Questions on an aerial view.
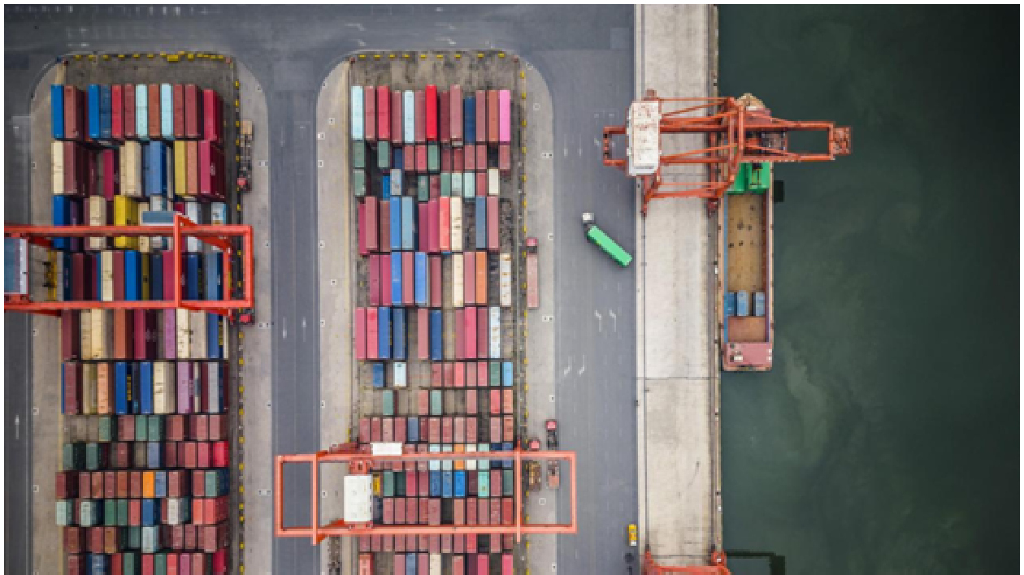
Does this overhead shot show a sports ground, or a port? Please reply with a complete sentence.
The area seen from above is a port.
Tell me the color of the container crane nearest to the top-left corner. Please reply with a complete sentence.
The container crane nearest to the top-left corner looks red in the image.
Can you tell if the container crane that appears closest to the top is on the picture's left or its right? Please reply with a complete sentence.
The container crane that appears closest to the top is on the right side of the image.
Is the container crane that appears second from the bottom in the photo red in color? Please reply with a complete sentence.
Yes, red is the color of the container crane that appears second from the bottom.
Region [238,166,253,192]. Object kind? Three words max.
vehicle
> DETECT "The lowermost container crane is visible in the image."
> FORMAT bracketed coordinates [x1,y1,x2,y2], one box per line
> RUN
[640,539,736,575]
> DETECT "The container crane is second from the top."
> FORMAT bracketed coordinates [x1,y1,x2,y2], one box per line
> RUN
[0,211,256,324]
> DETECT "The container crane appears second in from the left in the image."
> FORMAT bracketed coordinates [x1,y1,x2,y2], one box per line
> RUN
[277,433,575,545]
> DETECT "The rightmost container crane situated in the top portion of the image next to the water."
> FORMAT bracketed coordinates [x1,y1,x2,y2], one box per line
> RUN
[603,86,852,224]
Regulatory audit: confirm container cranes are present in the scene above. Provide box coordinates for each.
[0,211,256,324]
[640,539,736,575]
[603,86,852,224]
[277,433,575,545]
